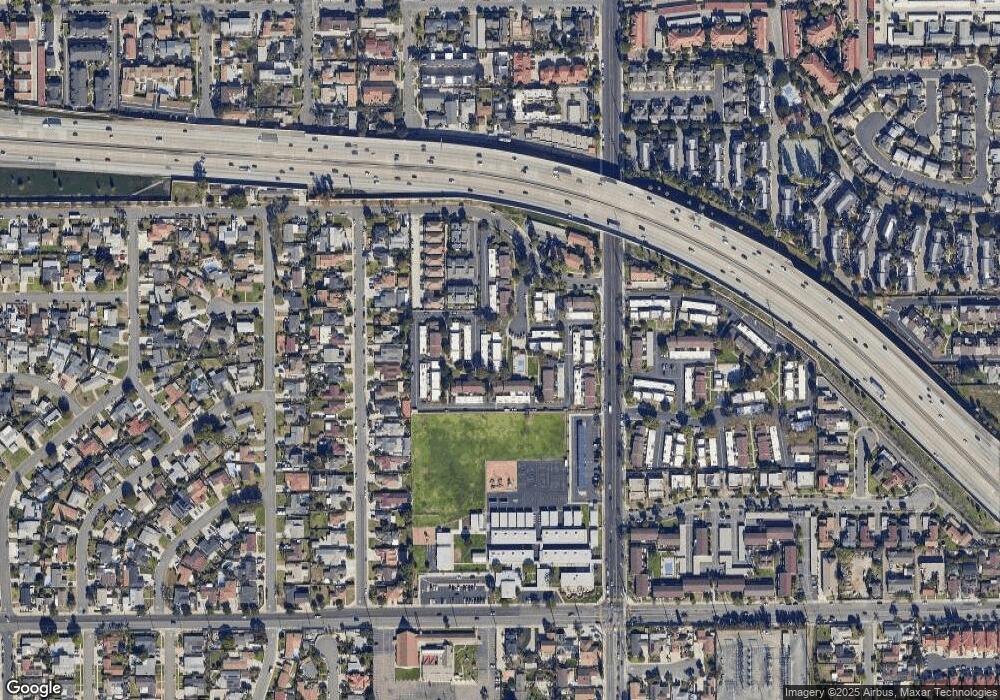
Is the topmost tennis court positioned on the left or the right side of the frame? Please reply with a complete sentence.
The topmost tennis court is on the right side of the image.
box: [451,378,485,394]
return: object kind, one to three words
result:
building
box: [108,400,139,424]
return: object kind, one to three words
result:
house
